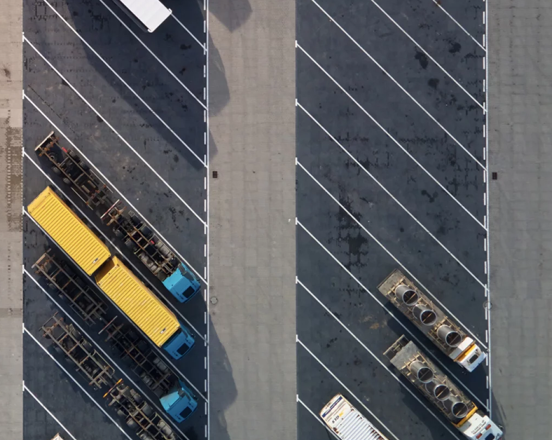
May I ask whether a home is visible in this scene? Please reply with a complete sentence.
No, the frame has no home in it.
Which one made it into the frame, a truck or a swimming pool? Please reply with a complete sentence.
Visible in the photo is a truck.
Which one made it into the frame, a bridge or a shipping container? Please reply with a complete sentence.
This aerial view contains a shipping container.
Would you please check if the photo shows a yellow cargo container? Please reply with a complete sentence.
Yes, a yellow cargo container appears in the view.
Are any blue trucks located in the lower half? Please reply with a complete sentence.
Yes, a blue truck shows up in the lower half.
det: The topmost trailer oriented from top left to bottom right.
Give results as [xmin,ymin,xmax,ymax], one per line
[35,131,112,212]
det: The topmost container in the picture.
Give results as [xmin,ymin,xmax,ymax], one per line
[28,187,111,275]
